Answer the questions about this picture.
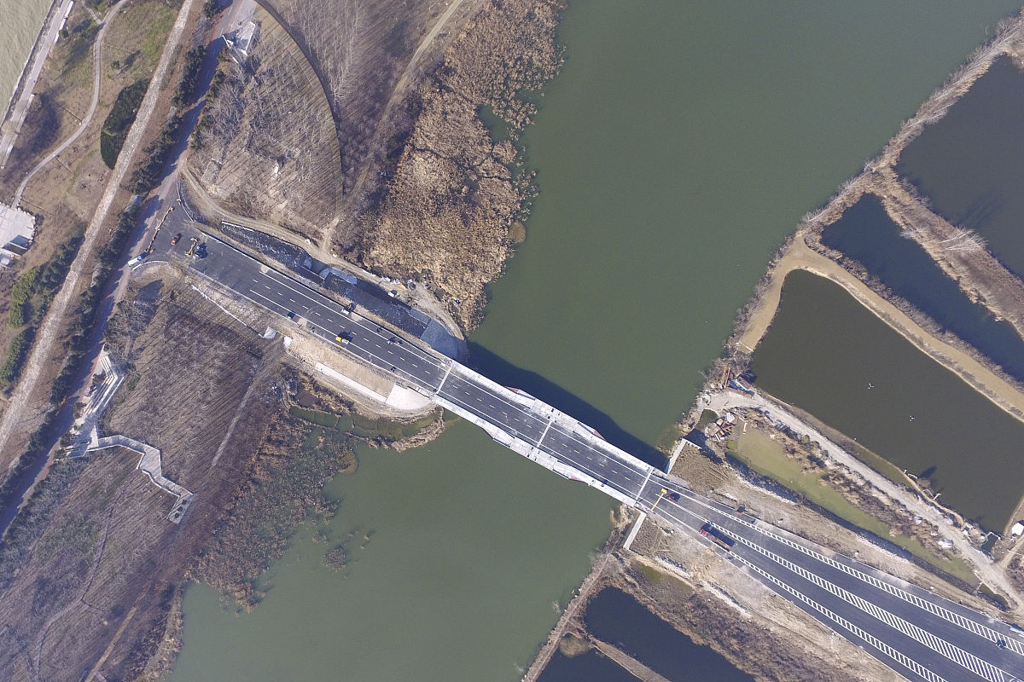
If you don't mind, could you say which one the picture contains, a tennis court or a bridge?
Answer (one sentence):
The one in the frame is a bridge.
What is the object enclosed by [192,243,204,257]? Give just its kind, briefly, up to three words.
vehicle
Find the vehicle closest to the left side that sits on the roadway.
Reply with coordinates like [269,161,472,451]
[123,254,141,266]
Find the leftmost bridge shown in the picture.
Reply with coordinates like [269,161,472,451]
[428,358,655,508]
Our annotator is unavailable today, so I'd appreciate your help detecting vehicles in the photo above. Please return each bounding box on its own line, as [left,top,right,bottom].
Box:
[667,492,679,501]
[170,233,180,245]
[385,338,395,346]
[333,335,348,345]
[192,243,204,257]
[701,528,736,550]
[996,640,1008,649]
[123,254,141,266]
[284,312,295,320]
[395,340,403,347]
[340,307,350,315]
[734,510,744,517]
